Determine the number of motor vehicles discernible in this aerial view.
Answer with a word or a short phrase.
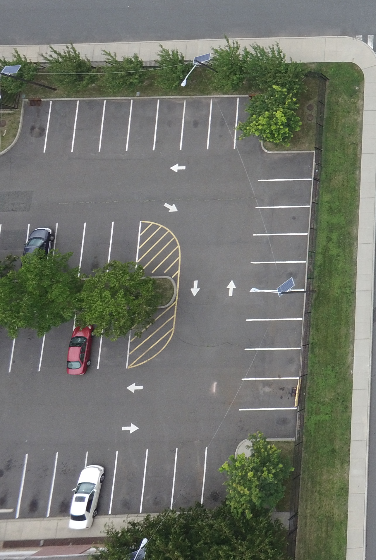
three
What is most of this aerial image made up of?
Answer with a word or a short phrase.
paved ground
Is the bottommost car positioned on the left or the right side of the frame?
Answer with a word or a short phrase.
left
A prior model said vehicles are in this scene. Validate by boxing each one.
[21,230,57,269]
[69,464,106,530]
[65,326,93,374]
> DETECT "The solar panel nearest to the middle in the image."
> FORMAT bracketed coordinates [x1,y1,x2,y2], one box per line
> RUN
[266,280,291,301]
